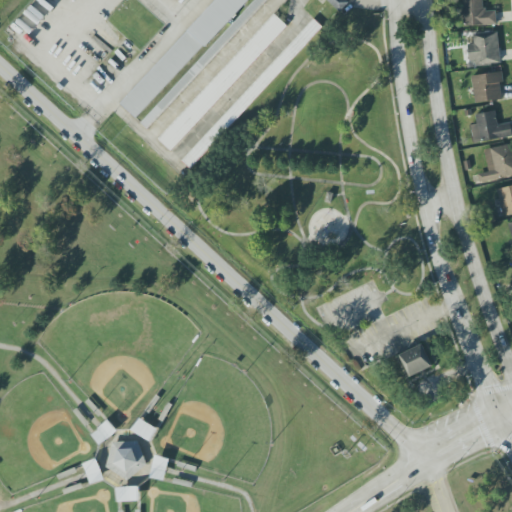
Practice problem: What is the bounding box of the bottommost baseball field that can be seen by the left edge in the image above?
[4,480,116,512]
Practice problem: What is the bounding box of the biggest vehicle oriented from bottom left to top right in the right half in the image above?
[360,496,380,510]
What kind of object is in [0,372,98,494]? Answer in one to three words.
baseball field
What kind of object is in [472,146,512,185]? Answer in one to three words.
house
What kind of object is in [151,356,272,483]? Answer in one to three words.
baseball field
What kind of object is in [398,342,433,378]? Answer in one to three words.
building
